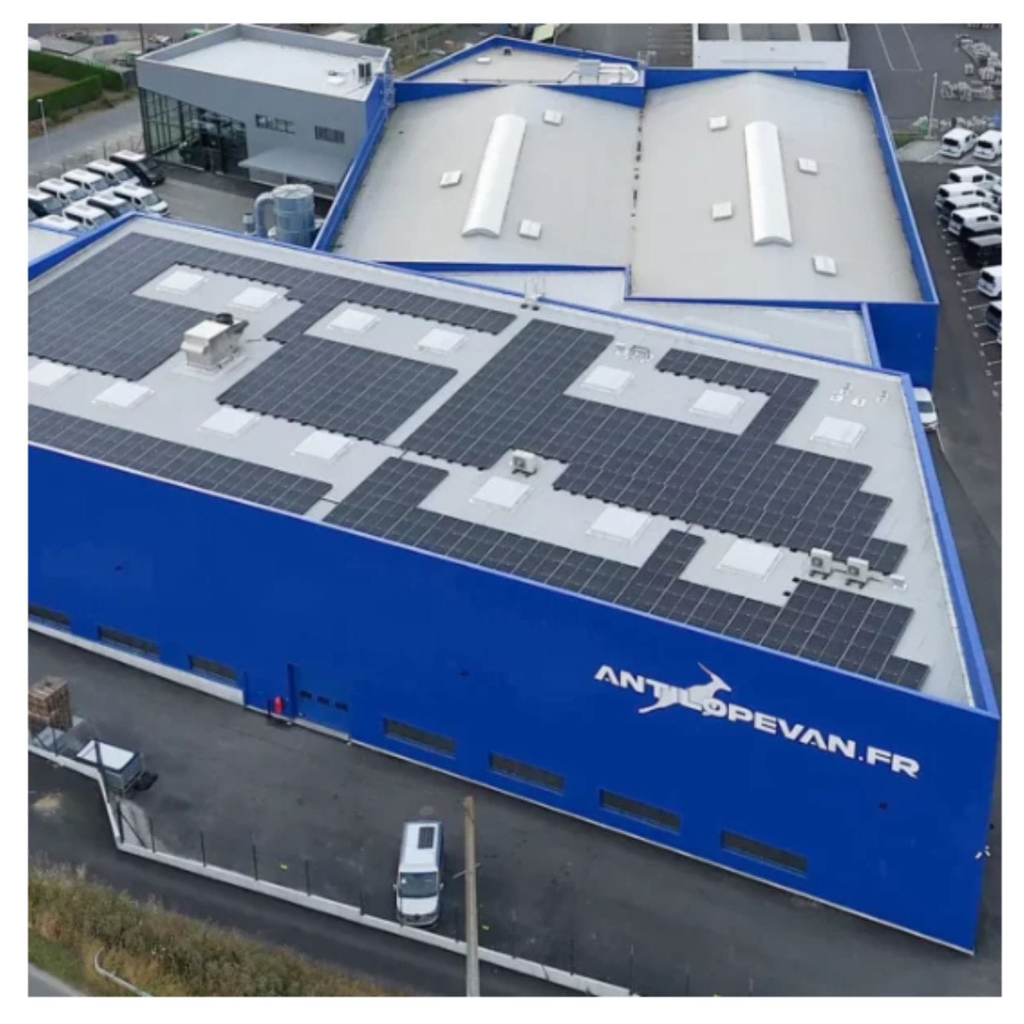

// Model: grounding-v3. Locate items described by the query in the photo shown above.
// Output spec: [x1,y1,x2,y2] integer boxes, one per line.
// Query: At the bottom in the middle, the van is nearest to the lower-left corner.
[392,819,445,924]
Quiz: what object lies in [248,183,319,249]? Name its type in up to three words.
silo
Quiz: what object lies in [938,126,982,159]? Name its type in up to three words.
van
